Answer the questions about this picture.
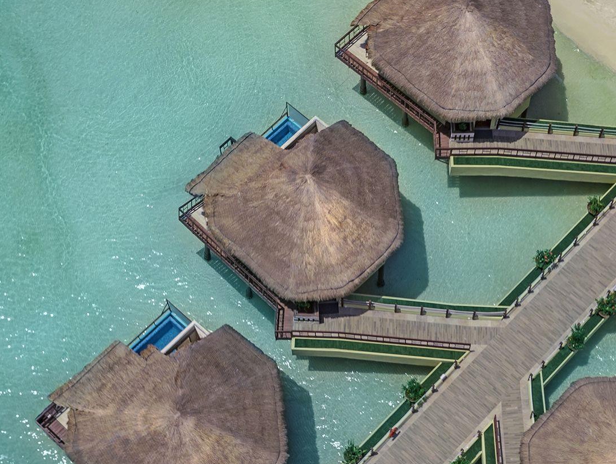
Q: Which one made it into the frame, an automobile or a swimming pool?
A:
swimming pool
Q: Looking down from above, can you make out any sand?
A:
Yes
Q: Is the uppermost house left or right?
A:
right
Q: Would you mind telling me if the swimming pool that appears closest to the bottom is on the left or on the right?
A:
left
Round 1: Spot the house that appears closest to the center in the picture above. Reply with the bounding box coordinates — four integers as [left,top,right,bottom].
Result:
[177,102,404,342]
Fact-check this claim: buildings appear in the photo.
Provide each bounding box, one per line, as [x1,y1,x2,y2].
[516,379,616,464]
[36,294,290,464]
[177,102,404,342]
[337,0,557,162]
